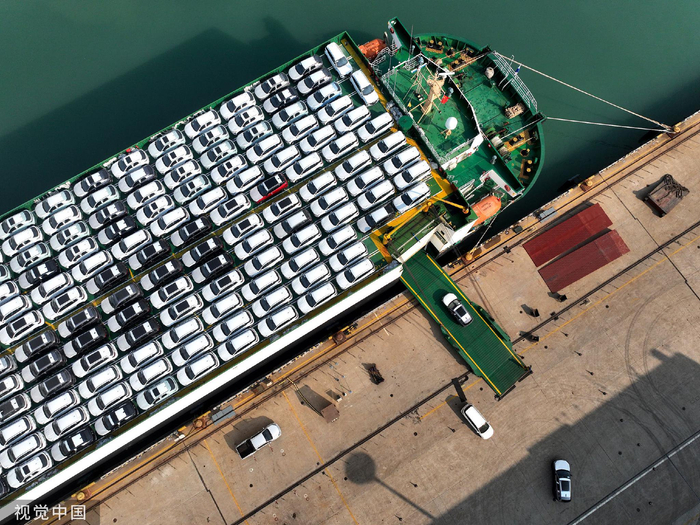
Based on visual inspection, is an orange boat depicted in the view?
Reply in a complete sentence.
Yes, the frame does contain an orange boat.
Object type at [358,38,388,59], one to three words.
boat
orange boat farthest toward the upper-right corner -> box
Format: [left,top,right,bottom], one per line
[468,195,501,222]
